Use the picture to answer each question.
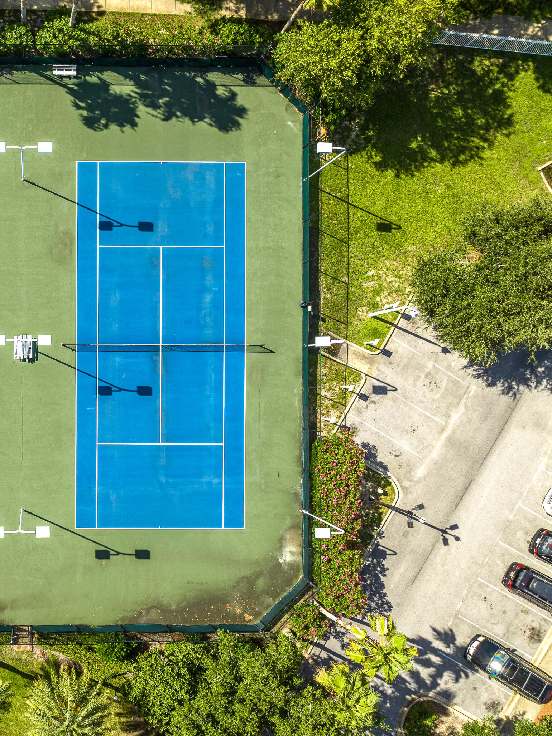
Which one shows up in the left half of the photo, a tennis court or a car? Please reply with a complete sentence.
What appears in the left half of the photo is a tennis court.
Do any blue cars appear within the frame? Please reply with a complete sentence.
No, the frame has no blue car in it.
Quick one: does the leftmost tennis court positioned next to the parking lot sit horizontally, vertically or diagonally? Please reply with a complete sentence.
I'd say the leftmost tennis court positioned next to the parking lot is aligned vertically in the picture.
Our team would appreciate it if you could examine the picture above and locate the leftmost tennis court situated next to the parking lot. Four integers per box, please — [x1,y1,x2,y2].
[76,160,247,529]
